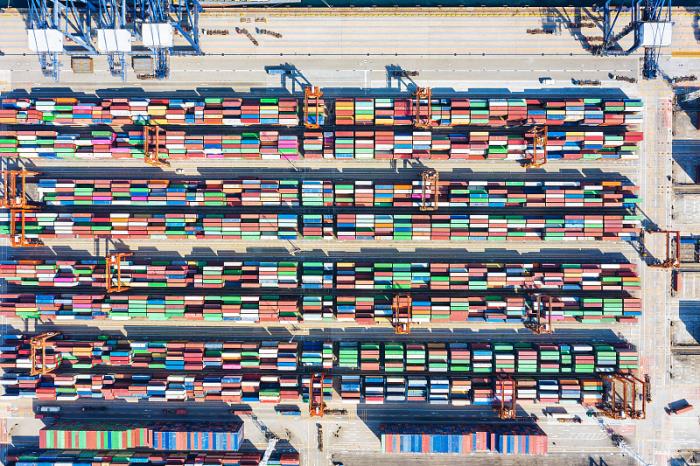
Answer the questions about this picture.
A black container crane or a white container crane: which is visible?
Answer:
white container crane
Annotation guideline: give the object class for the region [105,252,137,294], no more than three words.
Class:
crane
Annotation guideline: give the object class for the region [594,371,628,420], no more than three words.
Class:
crane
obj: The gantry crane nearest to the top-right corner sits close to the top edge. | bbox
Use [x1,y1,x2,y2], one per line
[598,0,679,84]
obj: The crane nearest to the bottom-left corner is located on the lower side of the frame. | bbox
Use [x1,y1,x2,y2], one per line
[29,330,66,376]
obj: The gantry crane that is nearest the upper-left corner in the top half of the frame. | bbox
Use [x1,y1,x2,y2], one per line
[27,0,107,85]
